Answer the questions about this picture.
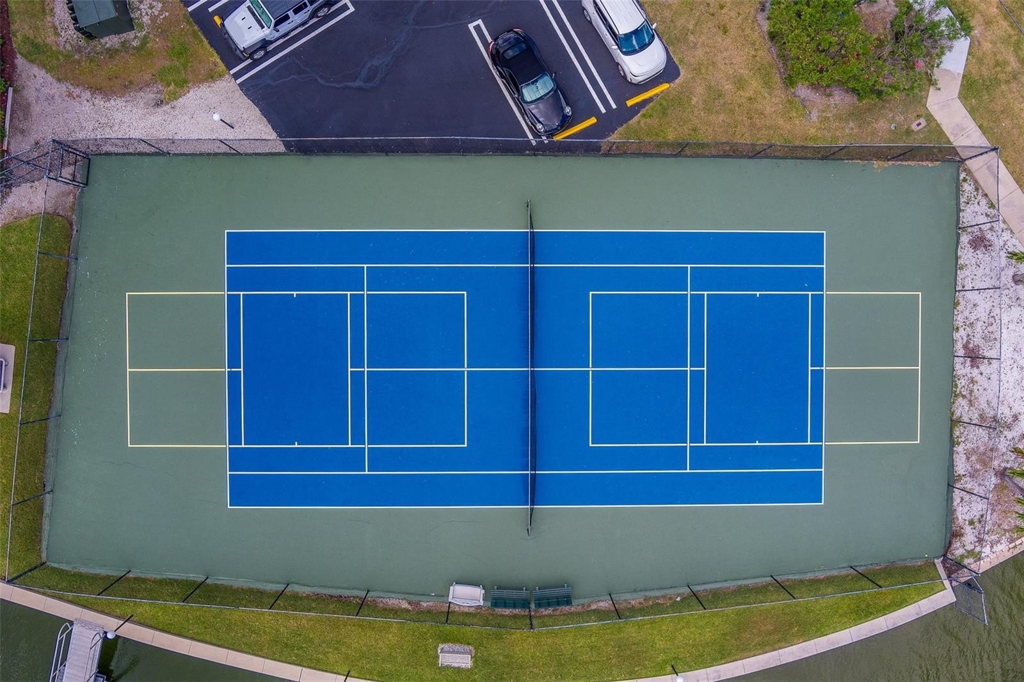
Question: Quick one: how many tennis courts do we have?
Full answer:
In total, there is 1 tennis court in the scene.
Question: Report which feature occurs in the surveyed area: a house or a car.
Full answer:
There is a car in the scene.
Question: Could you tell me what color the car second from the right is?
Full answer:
The color of the car second from the right is black.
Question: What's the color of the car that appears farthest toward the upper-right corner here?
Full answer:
From above, the car that appears farthest toward the upper-right corner appears white.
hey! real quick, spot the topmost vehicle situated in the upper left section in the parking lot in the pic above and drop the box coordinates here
[218,0,336,64]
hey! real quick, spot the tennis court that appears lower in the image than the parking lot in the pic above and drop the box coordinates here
[42,151,963,610]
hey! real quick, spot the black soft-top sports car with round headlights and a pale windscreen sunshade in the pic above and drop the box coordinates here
[487,24,572,139]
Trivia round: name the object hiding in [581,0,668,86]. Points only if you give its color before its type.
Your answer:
white car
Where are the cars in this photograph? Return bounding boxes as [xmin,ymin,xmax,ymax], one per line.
[218,0,336,64]
[487,24,572,139]
[581,0,668,86]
